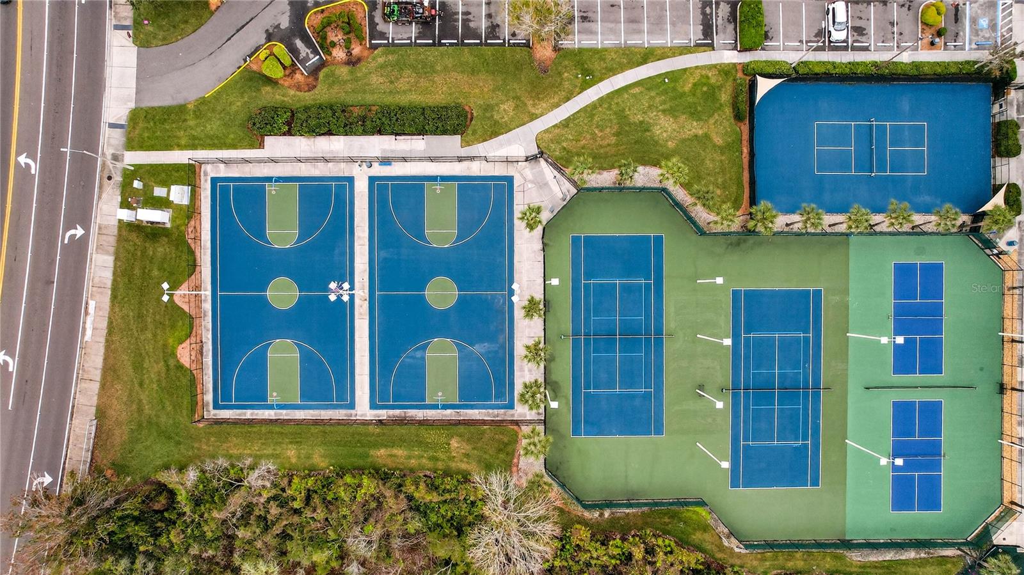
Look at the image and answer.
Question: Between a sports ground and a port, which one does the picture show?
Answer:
sports ground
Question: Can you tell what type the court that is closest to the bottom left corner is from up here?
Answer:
basketball court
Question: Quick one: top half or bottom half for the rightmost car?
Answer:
top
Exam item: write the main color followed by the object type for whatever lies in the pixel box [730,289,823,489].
blue tennis court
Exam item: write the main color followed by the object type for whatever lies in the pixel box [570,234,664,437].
blue tennis court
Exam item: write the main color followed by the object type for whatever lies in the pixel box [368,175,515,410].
blue basketball court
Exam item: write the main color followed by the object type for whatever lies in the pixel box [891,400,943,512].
blue sports court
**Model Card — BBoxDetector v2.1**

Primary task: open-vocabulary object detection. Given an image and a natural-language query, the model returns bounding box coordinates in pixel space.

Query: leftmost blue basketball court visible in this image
[210,176,356,411]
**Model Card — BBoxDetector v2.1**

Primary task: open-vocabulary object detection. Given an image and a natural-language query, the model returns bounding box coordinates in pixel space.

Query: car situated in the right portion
[827,1,850,42]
